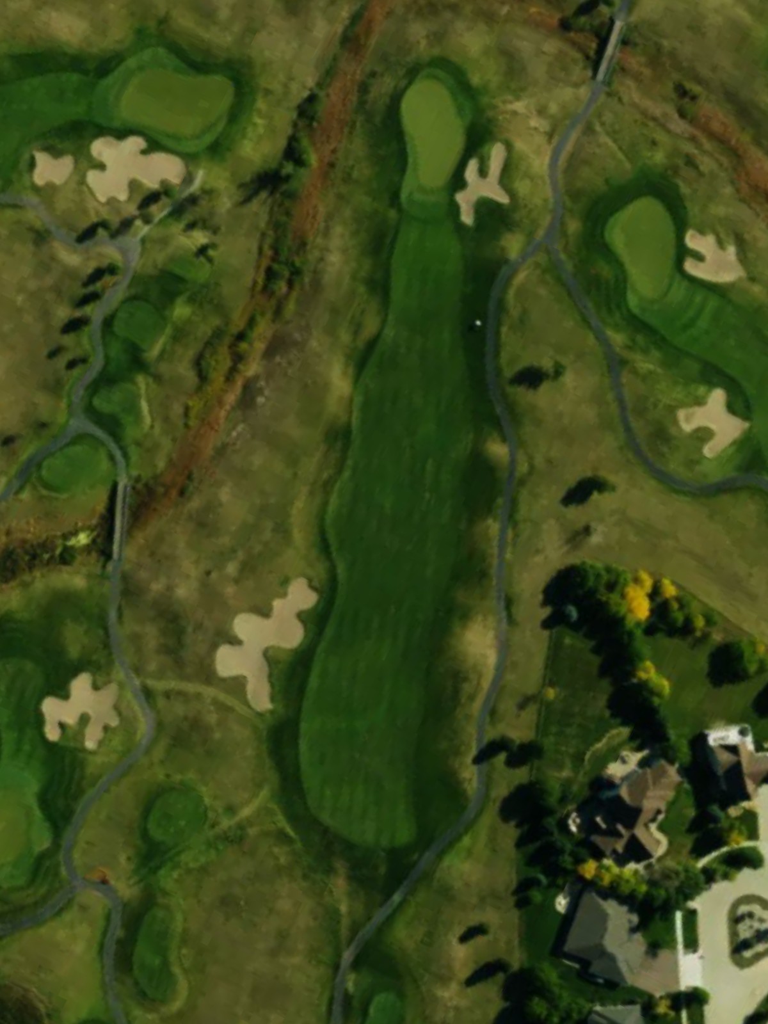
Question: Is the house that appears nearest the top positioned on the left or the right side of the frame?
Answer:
right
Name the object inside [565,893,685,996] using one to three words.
house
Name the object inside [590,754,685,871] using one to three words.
house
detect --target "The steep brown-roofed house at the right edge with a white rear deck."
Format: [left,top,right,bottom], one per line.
[704,725,768,805]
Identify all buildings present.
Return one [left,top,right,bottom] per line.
[590,754,685,871]
[704,725,768,805]
[565,893,685,996]
[589,1005,654,1024]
